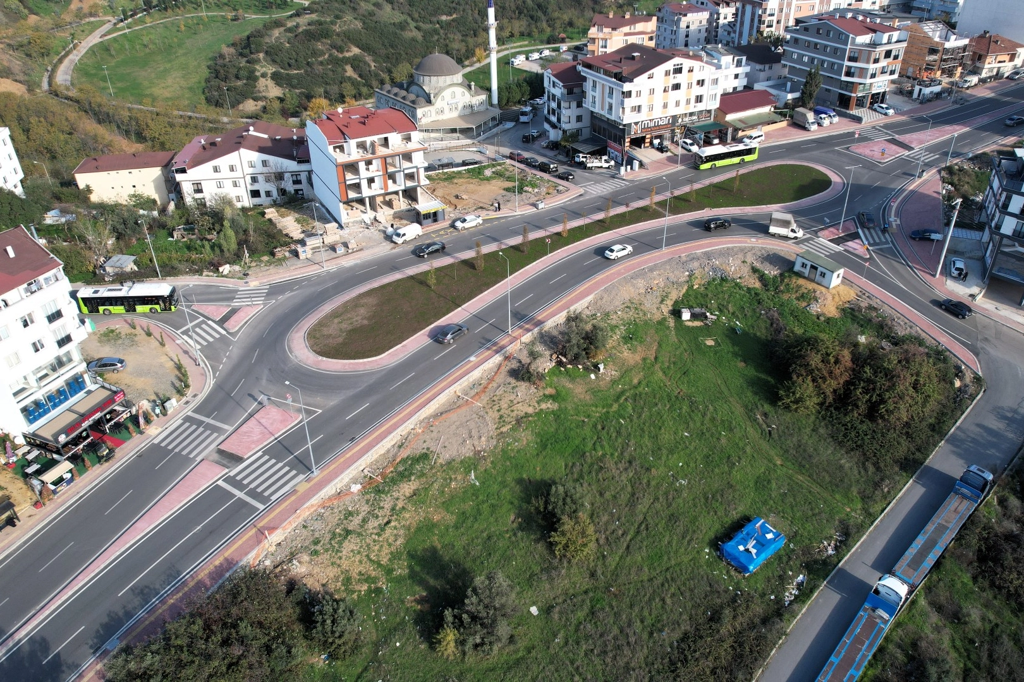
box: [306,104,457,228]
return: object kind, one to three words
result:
building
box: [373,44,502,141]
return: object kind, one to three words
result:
building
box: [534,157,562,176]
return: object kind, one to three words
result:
vehicle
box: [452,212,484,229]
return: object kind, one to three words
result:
car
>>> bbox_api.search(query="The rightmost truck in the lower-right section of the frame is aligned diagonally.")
[904,469,997,577]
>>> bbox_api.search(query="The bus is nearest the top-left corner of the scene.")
[71,282,179,316]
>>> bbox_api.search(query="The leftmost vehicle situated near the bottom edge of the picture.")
[818,570,929,682]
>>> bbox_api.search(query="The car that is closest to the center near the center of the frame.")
[430,323,470,346]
